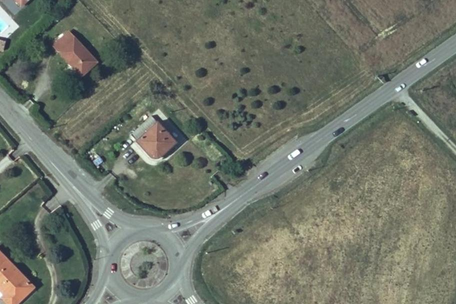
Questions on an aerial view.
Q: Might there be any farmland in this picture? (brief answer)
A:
Yes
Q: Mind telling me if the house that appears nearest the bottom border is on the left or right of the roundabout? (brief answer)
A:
to the left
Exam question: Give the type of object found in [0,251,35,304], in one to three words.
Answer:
house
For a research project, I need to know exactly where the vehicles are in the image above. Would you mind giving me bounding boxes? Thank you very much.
[333,128,344,137]
[396,84,406,92]
[258,172,268,180]
[416,59,427,68]
[124,150,133,158]
[202,211,212,219]
[212,206,221,214]
[288,150,301,160]
[292,166,302,174]
[128,156,138,164]
[168,224,178,230]
[121,142,130,150]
